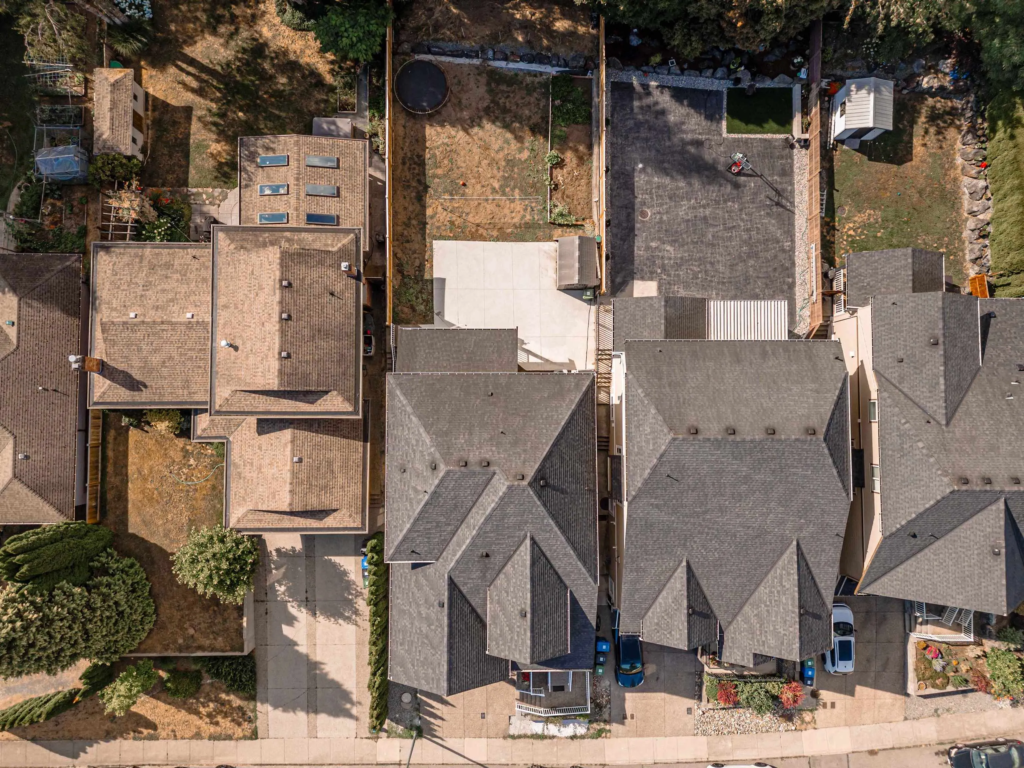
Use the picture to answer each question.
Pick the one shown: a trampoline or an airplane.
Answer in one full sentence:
I can see a trampoline in this picture.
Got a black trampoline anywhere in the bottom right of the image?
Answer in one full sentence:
No, there's no black trampoline to be seen in the bottom right of the image.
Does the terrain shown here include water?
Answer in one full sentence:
No, no water is visible.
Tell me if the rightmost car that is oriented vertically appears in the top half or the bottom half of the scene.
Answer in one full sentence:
It is in the bottom half that the rightmost car that is oriented vertically appears.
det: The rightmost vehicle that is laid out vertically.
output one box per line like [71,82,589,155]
[820,602,859,677]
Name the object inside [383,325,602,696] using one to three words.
house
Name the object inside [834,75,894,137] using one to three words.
shed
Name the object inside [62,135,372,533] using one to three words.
house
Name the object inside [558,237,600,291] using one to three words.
shed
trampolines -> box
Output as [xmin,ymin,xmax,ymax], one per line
[395,59,450,117]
